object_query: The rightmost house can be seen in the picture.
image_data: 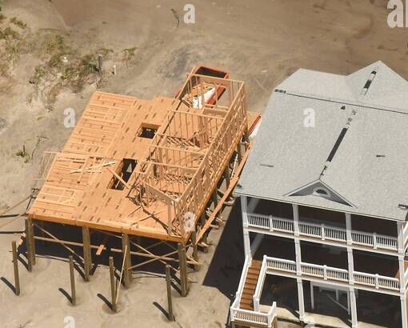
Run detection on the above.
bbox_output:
[227,56,408,328]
